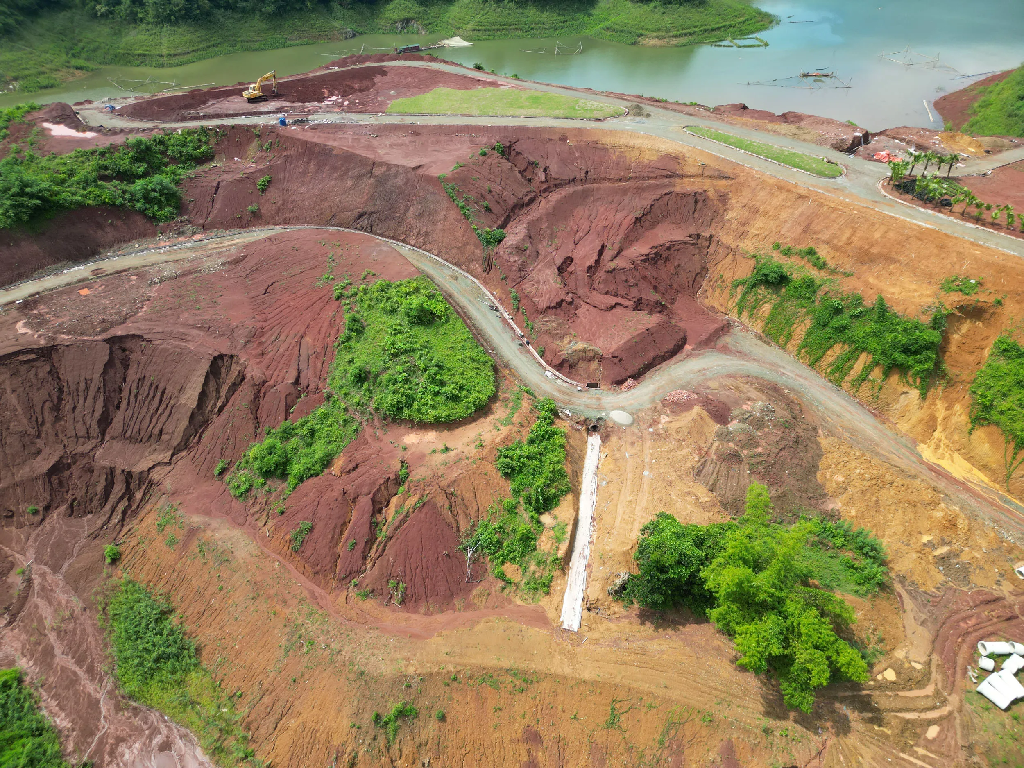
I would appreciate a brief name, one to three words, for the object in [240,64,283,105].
work vehicle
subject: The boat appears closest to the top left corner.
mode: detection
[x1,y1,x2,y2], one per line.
[395,40,425,52]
